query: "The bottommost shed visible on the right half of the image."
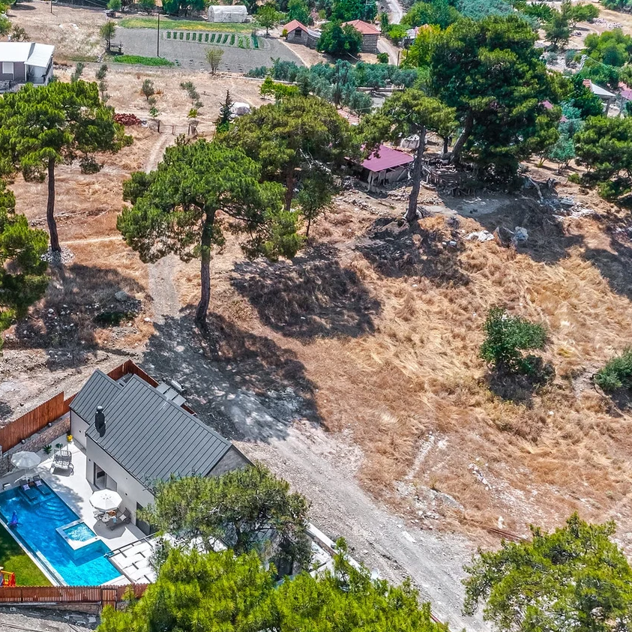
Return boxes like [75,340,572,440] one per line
[356,145,414,198]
